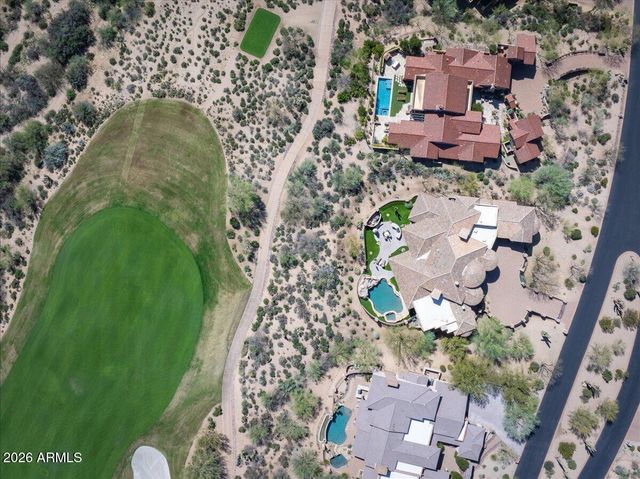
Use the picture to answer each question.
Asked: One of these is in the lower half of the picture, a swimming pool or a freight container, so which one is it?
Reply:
swimming pool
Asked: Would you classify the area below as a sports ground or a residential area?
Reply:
residential area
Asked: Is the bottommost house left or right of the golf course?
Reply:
to its right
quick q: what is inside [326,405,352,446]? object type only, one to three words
swimming pool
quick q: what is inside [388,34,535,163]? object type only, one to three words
house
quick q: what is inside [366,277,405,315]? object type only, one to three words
swimming pool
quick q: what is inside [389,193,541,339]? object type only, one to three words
house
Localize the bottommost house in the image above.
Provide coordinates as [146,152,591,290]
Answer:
[353,369,486,479]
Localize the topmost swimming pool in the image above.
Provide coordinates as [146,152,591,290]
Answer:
[374,76,392,118]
